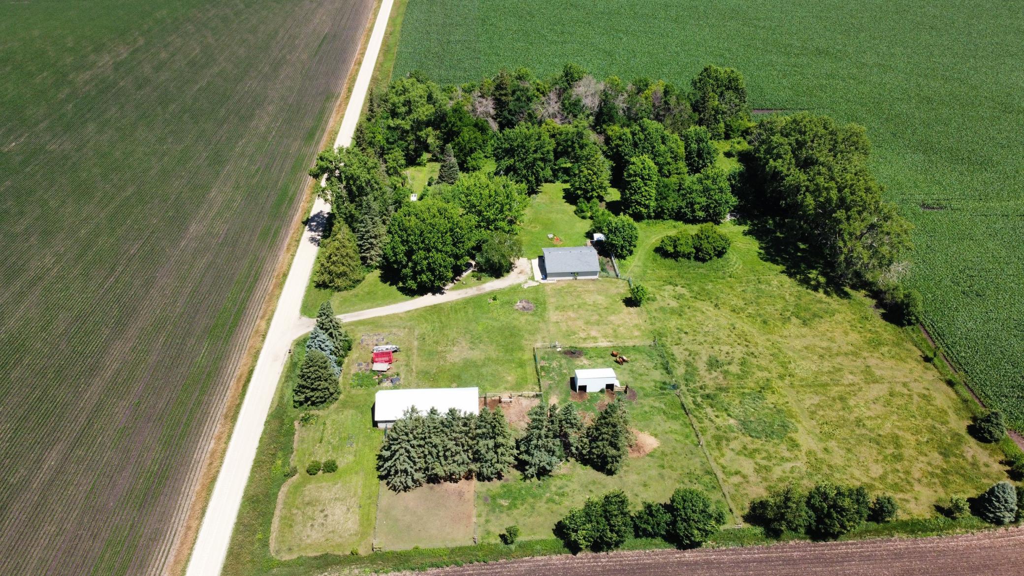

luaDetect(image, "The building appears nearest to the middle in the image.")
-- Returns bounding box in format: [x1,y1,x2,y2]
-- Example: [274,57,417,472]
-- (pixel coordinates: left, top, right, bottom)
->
[543,246,601,280]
